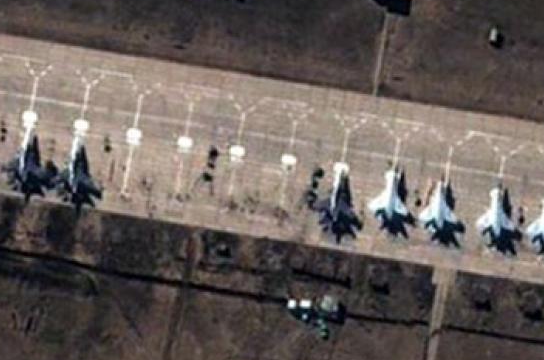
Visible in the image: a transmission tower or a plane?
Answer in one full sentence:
The image shows a plane.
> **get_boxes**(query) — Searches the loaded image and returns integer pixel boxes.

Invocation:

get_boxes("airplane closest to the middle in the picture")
[311,165,355,230]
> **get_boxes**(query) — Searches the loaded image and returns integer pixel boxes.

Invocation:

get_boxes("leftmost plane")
[2,122,46,188]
